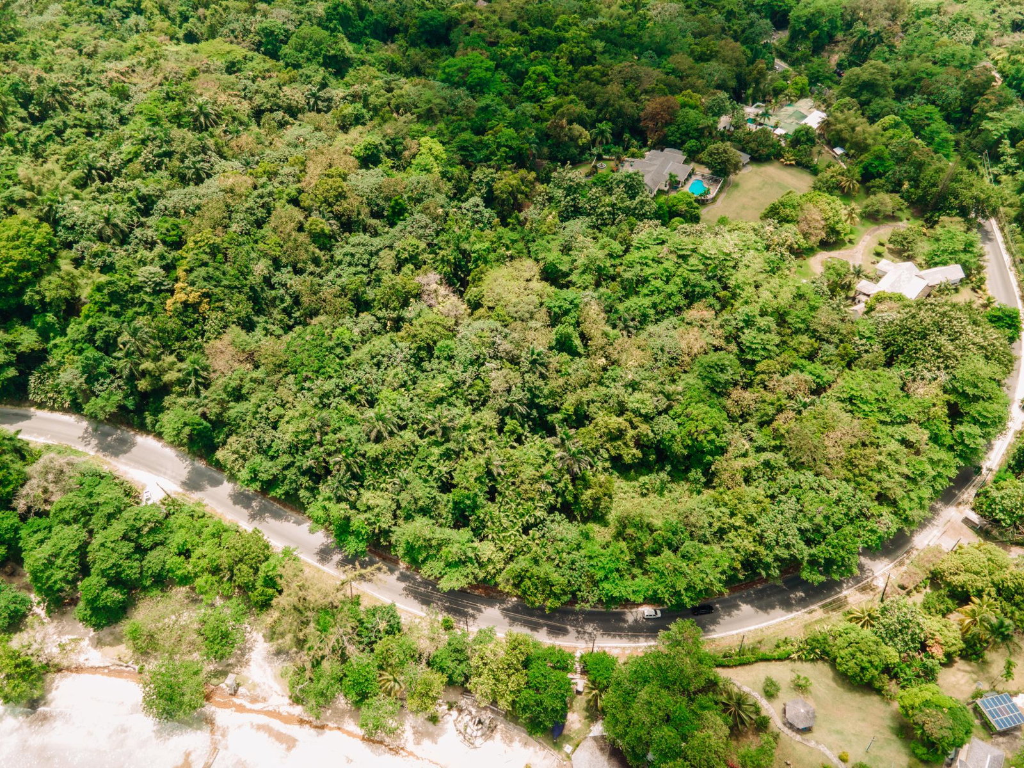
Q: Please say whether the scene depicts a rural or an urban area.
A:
rural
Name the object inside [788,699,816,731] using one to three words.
gazebo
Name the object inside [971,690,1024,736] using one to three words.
house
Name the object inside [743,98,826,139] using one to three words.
building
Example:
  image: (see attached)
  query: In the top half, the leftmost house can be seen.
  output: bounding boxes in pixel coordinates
[619,149,695,195]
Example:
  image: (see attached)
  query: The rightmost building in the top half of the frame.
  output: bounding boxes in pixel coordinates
[856,259,965,300]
